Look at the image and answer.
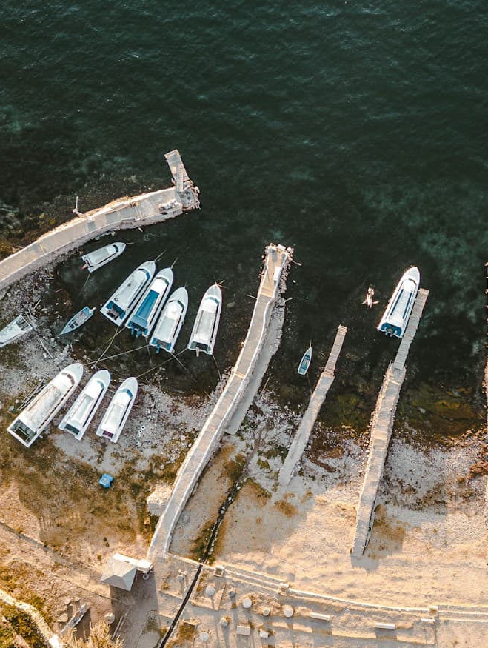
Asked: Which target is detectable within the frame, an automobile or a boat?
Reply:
boat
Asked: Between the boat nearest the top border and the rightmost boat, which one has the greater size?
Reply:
the rightmost boat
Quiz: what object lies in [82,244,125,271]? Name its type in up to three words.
boat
